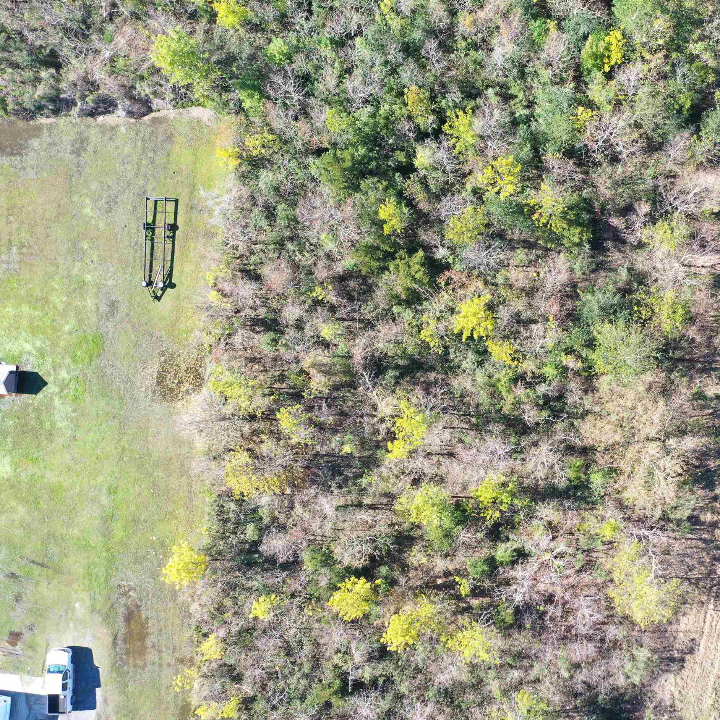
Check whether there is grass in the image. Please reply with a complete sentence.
Yes, grass can be seen from above here.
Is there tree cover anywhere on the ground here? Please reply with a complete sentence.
Yes, tree cover shows up in the scene.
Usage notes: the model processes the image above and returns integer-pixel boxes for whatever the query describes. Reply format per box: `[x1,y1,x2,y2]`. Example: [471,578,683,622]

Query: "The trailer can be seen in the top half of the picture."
[141,195,173,304]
